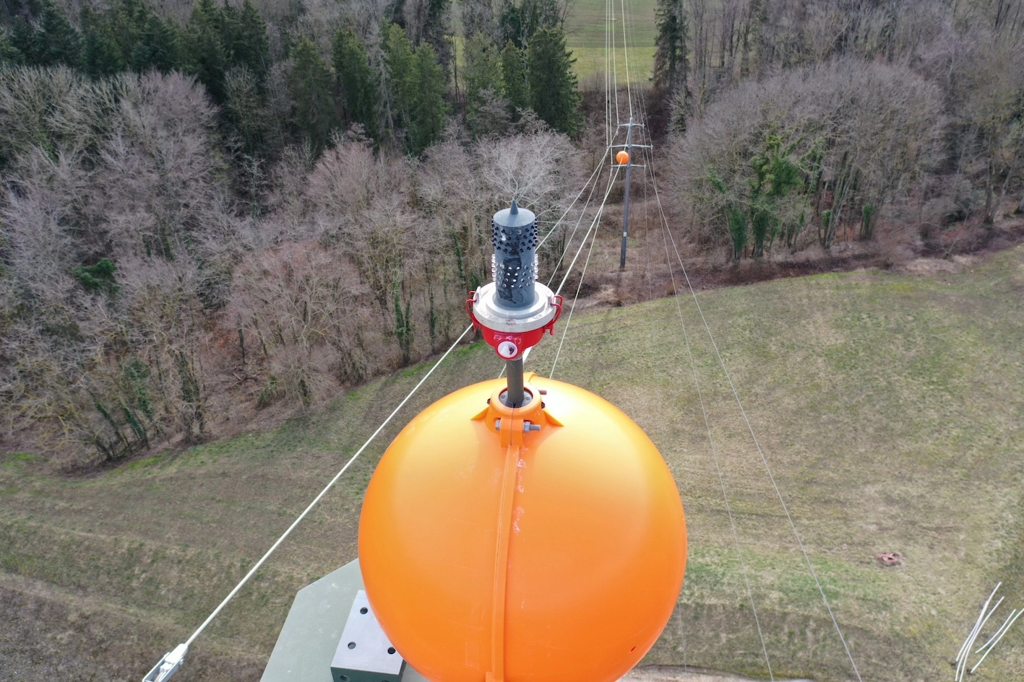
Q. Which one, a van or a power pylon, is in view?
power pylon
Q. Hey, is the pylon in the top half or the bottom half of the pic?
top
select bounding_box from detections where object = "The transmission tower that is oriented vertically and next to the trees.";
[607,116,652,266]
